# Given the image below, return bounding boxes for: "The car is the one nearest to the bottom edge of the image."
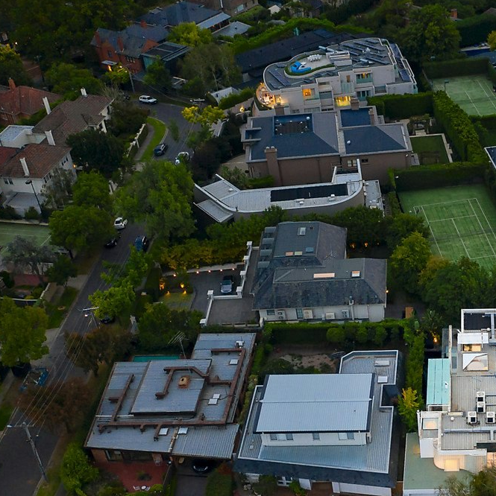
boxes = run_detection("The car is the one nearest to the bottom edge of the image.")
[191,456,211,481]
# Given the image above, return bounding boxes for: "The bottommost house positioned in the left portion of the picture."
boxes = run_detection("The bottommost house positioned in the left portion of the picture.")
[87,333,256,467]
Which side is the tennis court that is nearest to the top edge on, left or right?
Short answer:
right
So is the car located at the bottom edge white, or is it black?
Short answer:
black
